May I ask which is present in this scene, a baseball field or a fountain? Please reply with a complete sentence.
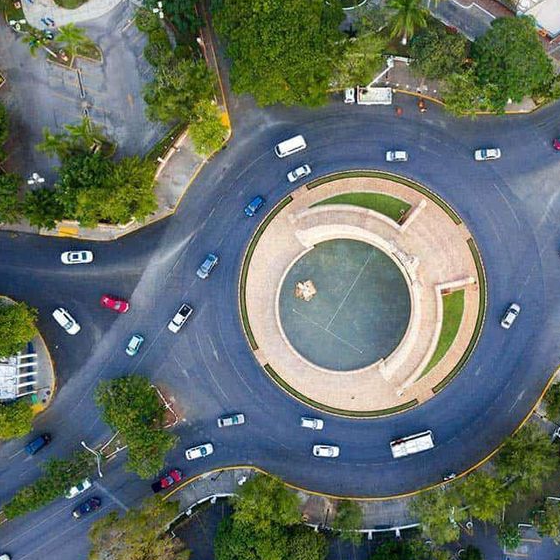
The one in the frame is a fountain.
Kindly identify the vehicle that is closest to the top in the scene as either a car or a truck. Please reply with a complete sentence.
In the photo, the vehicle that is closest to the top shows up as a truck.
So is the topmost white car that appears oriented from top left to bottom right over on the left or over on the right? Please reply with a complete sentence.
It is on the left.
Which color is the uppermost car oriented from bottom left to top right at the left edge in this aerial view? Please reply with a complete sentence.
The uppermost car oriented from bottom left to top right at the left edge is blue.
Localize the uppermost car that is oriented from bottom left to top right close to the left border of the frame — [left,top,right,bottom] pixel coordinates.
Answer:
[24,431,53,454]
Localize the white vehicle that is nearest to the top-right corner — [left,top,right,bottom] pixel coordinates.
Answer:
[473,147,500,161]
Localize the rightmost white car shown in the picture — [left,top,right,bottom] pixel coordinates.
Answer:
[500,301,519,330]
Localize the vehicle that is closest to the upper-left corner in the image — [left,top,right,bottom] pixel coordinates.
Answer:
[61,249,94,264]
